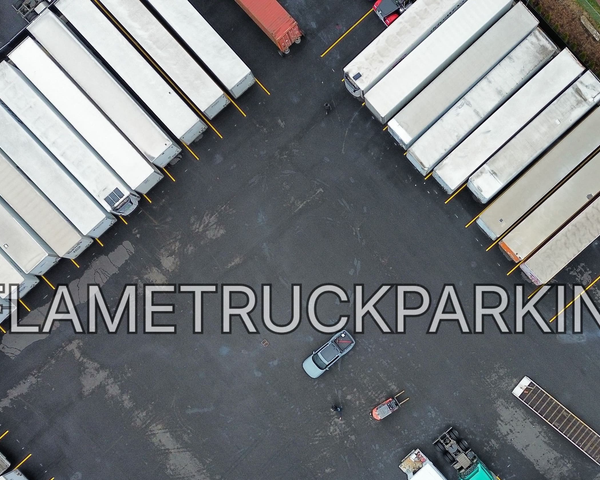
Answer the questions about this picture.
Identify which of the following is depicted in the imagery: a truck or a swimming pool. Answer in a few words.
truck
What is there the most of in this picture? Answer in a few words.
paved ground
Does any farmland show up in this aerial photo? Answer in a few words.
No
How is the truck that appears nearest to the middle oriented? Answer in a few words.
diagonally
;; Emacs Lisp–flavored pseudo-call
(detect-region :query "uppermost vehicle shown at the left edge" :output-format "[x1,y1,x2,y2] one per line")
[10,0,48,24]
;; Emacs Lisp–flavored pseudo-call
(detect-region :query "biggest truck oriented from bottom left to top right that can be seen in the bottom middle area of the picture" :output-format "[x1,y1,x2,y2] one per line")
[304,329,355,379]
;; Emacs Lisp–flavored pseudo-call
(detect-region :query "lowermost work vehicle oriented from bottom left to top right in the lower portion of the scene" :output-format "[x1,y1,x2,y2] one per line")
[374,392,409,420]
